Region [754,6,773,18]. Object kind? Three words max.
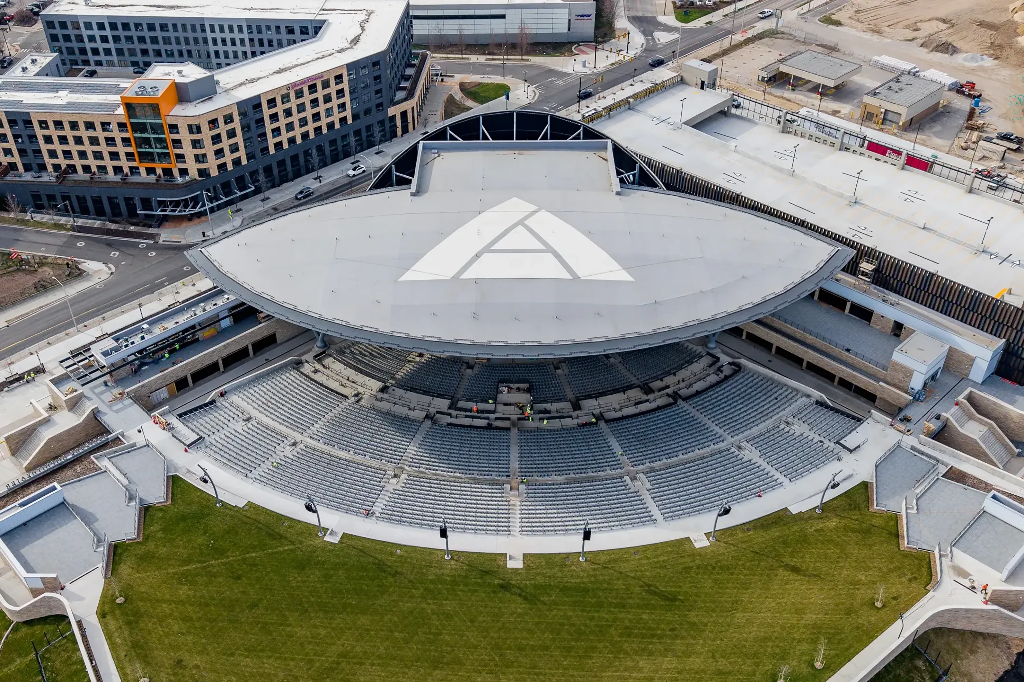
vehicle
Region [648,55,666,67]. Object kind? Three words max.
vehicle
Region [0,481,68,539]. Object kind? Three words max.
building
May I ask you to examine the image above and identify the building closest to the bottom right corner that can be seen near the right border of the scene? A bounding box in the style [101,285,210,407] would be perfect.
[979,489,1024,542]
